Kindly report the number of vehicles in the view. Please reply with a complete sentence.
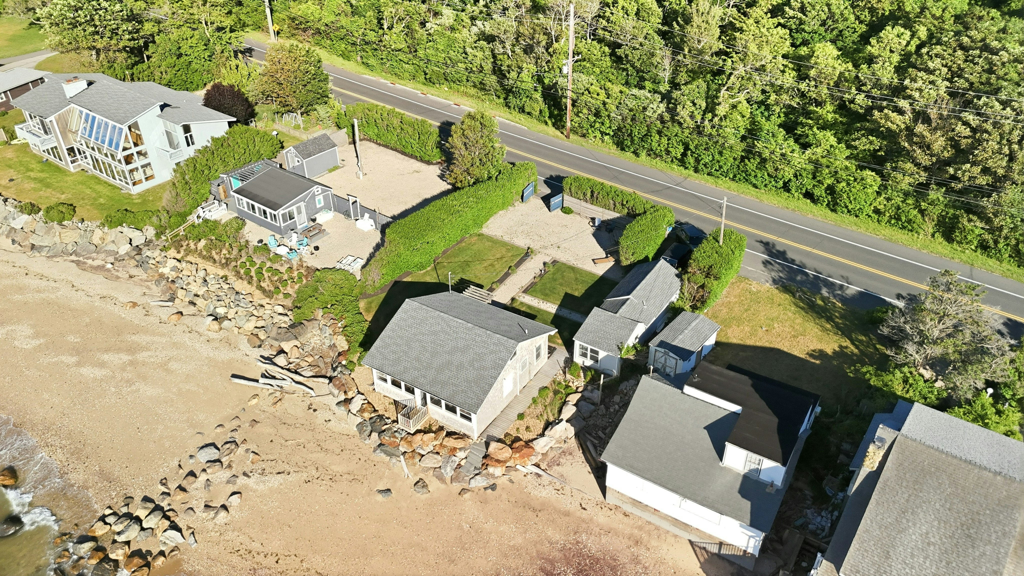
My tally gives 2 vehicles in this view.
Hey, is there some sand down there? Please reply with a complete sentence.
Yes, some sand is visible.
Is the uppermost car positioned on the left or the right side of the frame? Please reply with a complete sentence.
The uppermost car appears in the right half of the scene.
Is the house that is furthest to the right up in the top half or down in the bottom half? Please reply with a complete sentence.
It is in the bottom half that the house that is furthest to the right appears.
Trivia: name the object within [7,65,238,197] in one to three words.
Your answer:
house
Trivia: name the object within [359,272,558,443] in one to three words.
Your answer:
house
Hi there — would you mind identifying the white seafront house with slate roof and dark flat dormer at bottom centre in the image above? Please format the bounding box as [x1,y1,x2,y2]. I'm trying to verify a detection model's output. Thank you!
[599,356,823,572]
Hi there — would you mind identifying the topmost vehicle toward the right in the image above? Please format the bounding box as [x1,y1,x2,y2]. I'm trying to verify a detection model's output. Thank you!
[680,224,710,250]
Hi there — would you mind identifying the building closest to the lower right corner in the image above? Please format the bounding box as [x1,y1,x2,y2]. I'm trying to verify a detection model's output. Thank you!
[807,400,1024,576]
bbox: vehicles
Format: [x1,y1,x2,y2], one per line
[667,248,698,279]
[680,224,710,250]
